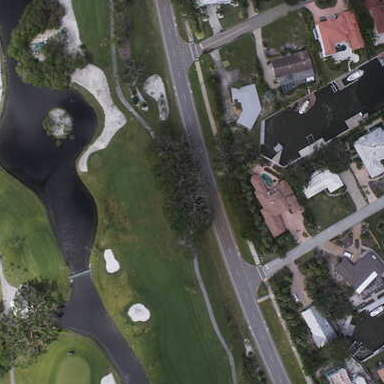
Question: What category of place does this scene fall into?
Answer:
golf course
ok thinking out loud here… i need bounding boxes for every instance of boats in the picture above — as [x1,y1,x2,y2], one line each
[299,102,308,114]
[346,71,363,83]
[370,308,383,316]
